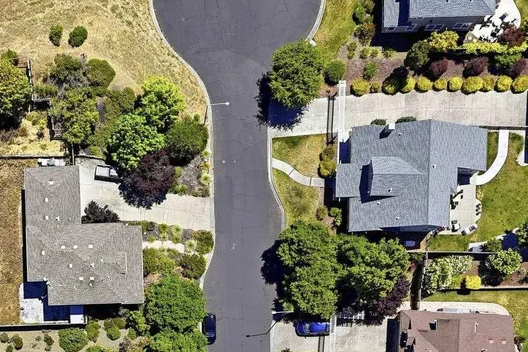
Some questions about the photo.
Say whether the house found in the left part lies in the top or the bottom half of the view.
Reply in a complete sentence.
The house found in the left part sits in the bottom half of the picture.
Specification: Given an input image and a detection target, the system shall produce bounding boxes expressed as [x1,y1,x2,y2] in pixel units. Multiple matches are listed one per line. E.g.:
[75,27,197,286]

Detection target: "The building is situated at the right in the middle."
[333,120,489,231]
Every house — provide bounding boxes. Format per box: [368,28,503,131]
[380,0,495,33]
[333,120,489,231]
[23,165,144,304]
[390,310,517,352]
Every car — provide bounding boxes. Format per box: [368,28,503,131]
[202,311,218,345]
[298,320,330,337]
